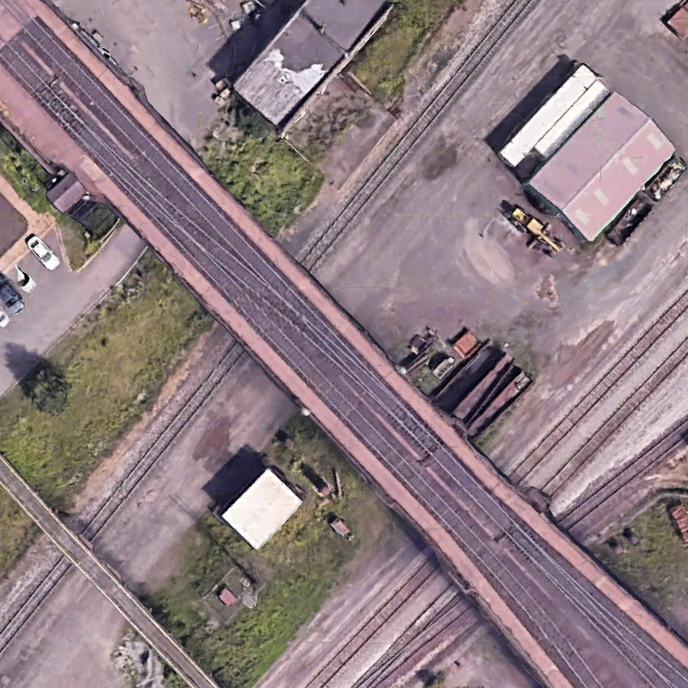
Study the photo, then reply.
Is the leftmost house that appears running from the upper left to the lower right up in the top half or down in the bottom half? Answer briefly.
top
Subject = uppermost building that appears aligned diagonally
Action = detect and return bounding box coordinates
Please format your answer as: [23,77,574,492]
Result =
[234,0,394,141]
